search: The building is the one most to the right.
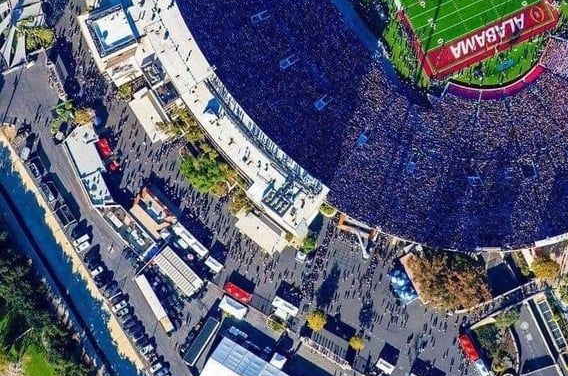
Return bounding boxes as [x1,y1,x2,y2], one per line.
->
[534,292,568,357]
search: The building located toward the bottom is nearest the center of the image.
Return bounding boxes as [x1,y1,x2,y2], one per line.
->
[235,209,285,255]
